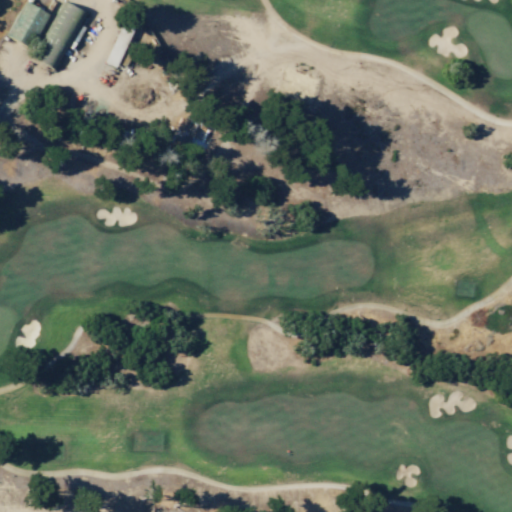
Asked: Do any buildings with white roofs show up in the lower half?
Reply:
No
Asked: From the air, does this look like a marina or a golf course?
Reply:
golf course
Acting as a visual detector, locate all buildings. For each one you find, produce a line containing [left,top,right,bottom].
[106,27,134,68]
[34,1,83,68]
[10,2,49,45]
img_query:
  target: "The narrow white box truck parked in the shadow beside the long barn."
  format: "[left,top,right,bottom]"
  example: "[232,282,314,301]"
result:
[71,26,87,48]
